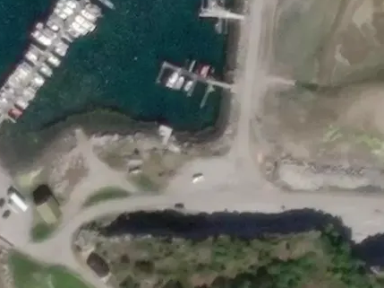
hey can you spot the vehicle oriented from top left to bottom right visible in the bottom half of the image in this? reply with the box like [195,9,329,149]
[7,191,27,212]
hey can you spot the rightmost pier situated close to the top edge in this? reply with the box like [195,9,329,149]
[199,0,238,35]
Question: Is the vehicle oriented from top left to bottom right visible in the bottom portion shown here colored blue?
No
